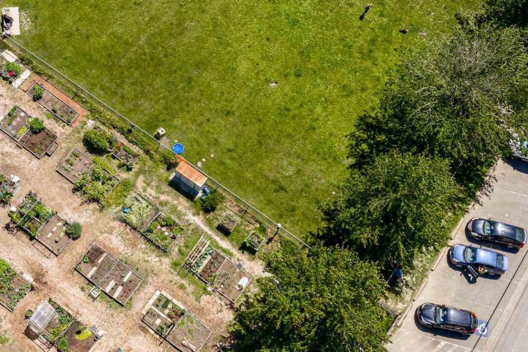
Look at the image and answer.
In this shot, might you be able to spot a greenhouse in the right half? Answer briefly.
No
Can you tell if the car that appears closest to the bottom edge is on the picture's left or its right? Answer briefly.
right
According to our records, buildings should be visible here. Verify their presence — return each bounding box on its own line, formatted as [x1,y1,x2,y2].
[174,160,209,194]
[23,300,61,342]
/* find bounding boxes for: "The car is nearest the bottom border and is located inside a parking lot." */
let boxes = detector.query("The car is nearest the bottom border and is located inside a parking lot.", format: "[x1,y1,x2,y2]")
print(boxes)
[416,299,480,337]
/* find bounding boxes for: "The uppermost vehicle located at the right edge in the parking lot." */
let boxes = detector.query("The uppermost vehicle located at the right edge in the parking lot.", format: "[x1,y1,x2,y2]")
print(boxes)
[465,216,527,250]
